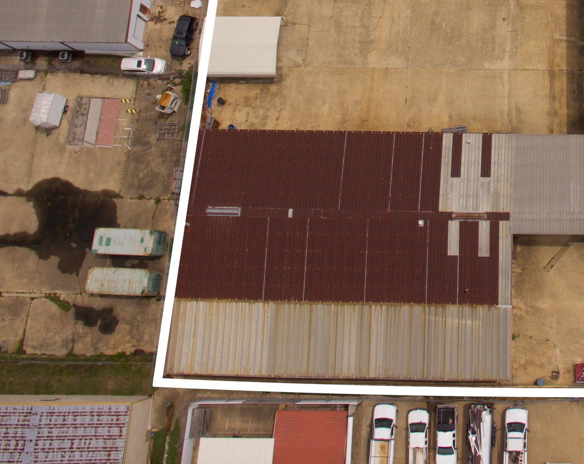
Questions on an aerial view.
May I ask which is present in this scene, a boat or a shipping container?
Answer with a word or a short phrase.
shipping container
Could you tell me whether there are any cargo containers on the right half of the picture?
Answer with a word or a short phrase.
No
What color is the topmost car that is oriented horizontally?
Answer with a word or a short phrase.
white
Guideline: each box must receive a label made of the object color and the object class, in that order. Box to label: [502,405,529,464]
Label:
white truck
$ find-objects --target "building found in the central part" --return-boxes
[164,127,512,380]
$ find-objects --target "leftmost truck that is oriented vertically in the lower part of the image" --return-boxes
[370,402,397,464]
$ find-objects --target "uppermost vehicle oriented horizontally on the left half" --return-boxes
[118,55,170,78]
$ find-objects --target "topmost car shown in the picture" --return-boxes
[169,13,200,60]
